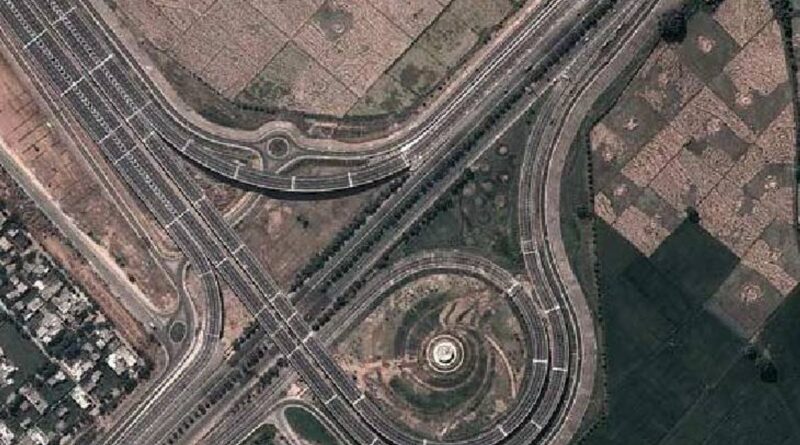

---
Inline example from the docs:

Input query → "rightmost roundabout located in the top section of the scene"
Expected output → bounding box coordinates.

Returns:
[262,132,294,162]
